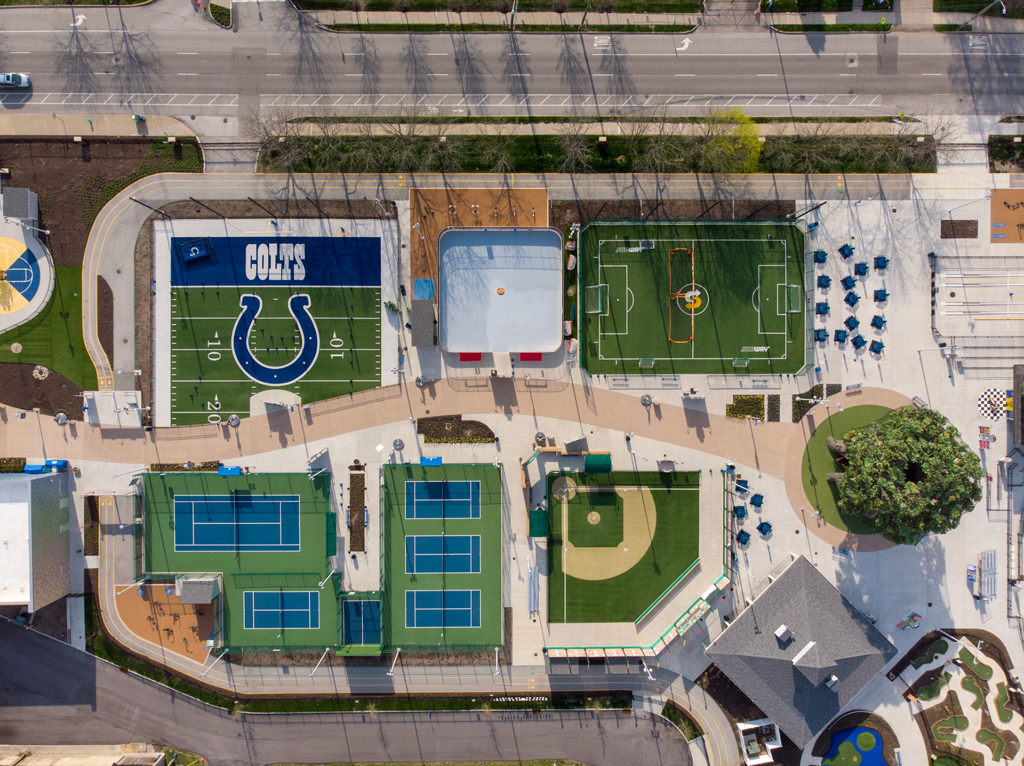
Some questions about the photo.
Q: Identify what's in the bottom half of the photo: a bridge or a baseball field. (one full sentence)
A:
Looking in the bottom half of the photo, you will find a baseball field.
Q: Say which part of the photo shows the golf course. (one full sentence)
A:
The golf course is located in the bottom right region of the scene.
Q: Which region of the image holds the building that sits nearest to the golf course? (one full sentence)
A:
You can find the building that sits nearest to the golf course in the bottom right area of the picture.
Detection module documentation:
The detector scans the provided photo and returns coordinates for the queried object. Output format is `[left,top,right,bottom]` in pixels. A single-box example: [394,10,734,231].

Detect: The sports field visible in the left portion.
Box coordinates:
[153,219,398,428]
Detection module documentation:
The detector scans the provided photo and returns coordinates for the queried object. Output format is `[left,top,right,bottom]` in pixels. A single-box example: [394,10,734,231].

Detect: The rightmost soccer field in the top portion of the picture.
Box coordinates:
[579,222,806,377]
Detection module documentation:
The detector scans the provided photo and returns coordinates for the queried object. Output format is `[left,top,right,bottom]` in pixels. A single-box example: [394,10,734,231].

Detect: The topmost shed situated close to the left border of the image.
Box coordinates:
[0,188,37,220]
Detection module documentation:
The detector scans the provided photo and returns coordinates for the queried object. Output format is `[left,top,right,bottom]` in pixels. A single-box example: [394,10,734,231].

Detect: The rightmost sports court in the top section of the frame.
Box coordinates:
[436,224,564,353]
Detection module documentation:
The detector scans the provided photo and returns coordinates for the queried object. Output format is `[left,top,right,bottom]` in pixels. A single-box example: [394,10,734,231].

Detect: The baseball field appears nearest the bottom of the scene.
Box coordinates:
[549,472,699,623]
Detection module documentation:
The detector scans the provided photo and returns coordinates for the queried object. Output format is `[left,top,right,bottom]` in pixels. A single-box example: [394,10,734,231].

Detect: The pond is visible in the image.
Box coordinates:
[812,710,902,766]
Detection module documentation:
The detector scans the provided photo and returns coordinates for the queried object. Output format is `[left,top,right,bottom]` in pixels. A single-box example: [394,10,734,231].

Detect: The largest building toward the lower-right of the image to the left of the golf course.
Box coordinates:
[701,554,899,750]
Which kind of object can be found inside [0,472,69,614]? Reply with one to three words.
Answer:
building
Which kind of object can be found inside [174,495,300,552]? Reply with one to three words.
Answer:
tennis court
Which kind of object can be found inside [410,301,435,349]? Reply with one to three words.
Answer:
shed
